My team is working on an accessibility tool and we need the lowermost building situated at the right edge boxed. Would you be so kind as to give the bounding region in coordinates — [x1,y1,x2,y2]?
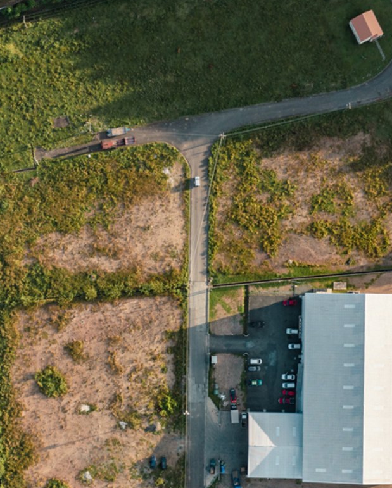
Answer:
[295,293,392,486]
